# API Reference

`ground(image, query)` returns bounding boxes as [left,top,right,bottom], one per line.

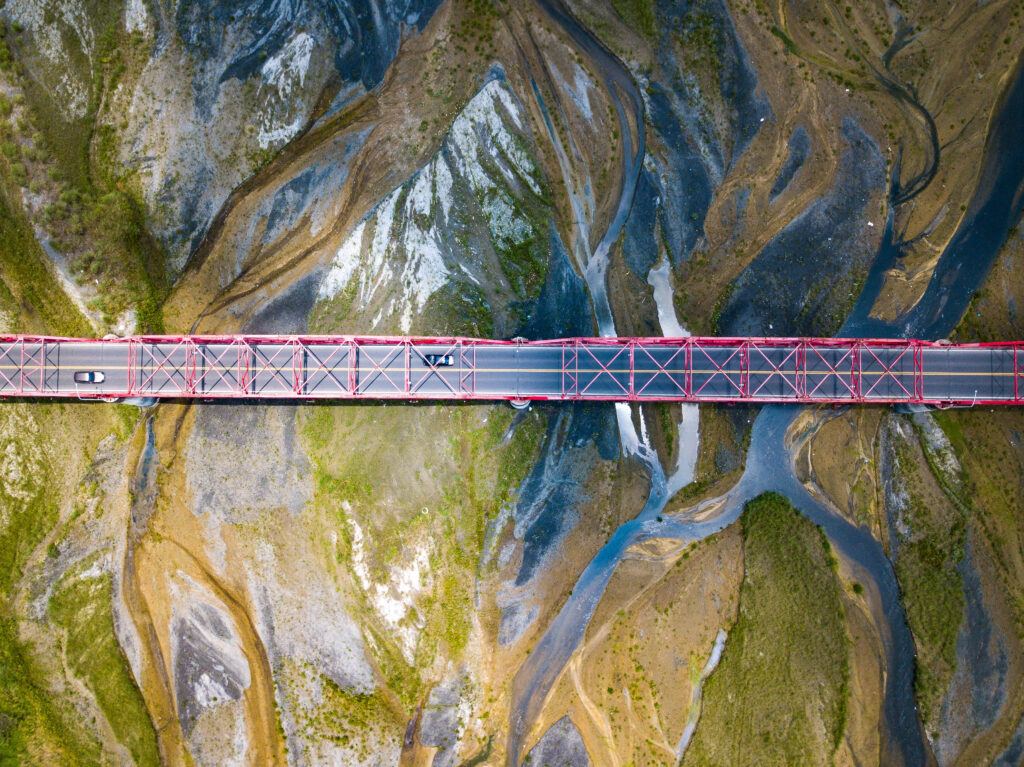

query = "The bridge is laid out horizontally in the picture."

[0,333,1024,414]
